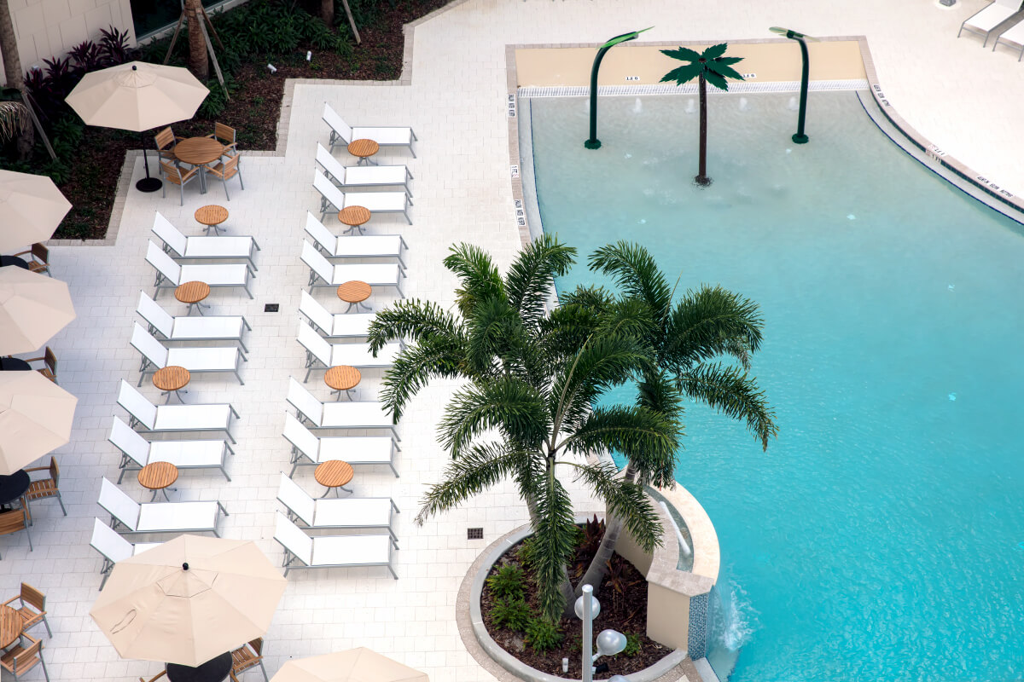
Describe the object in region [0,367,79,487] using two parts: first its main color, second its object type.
white umbrella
